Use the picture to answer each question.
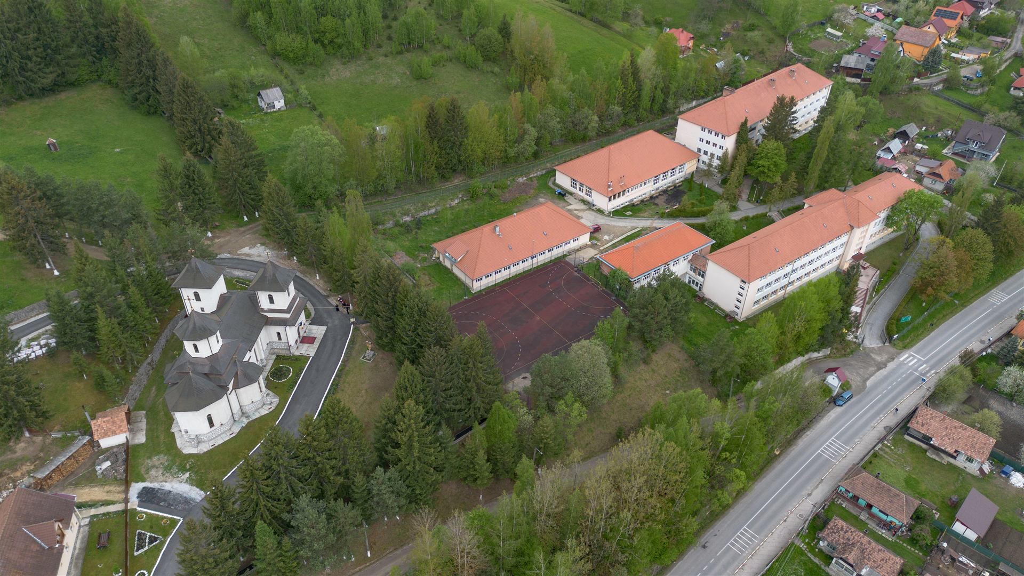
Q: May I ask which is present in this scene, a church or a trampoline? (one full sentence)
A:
There is a church in the scene.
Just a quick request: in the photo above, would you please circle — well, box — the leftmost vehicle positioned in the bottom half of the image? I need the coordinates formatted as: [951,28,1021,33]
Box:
[832,389,857,408]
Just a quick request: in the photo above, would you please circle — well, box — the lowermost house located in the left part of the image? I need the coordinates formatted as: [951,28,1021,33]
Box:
[0,492,83,576]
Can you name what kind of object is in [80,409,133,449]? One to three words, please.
shed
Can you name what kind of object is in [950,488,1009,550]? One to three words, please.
building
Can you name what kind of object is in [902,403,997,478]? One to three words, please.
house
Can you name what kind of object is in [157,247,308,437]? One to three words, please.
church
